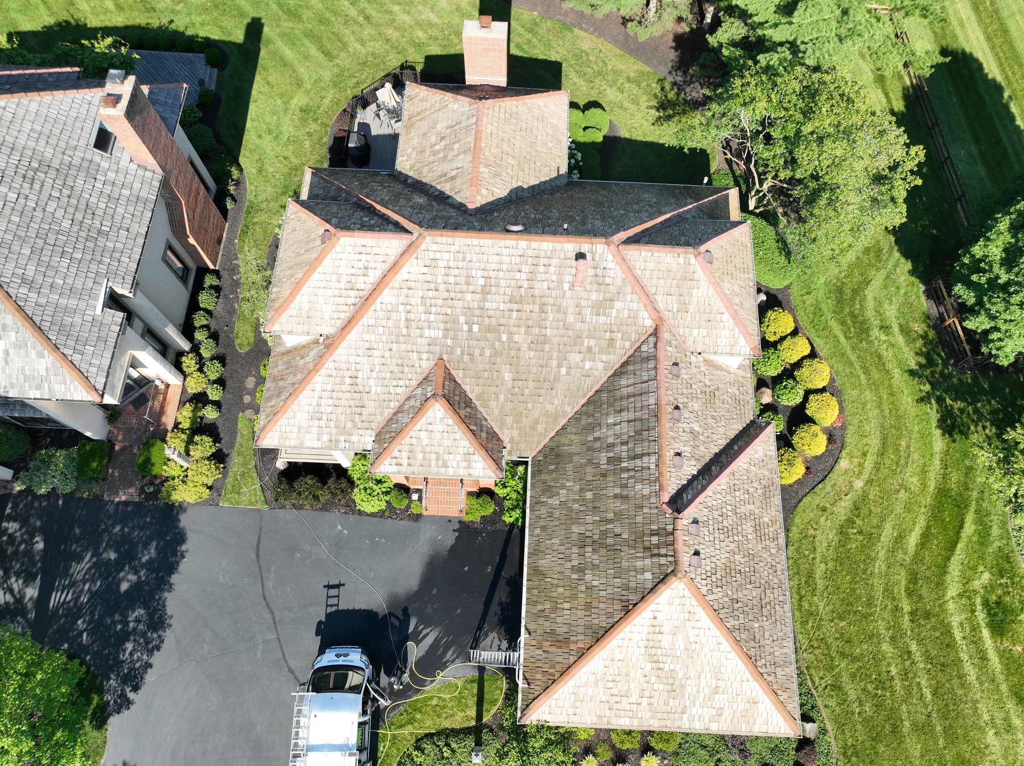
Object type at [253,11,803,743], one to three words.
house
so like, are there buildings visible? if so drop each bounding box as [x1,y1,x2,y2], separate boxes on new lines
[253,11,803,743]
[0,63,228,501]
